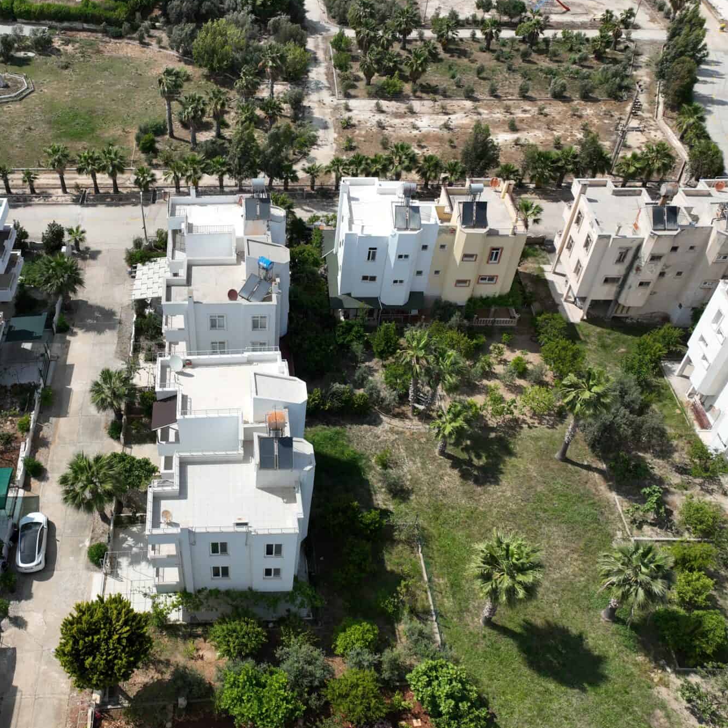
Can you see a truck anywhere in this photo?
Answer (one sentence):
No, the scene contains no truck.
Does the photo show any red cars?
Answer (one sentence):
No, no red car is visible in the view.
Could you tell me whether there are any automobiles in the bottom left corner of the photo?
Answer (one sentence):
Yes, in the bottom left corner of the photo there is an automobile.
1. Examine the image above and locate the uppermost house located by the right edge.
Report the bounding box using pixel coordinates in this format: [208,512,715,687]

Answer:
[533,179,728,332]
